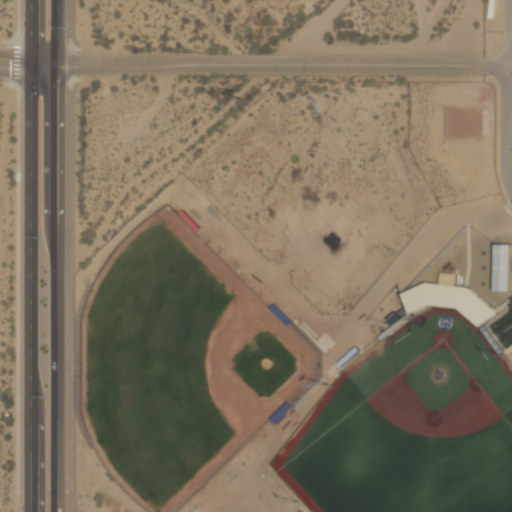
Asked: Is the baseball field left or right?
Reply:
right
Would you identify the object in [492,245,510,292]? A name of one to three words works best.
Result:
building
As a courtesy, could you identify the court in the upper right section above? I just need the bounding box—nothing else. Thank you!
[442,105,483,140]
